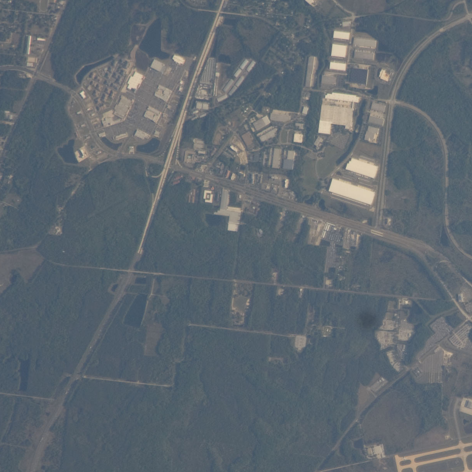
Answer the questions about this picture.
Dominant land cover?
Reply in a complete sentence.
The bulk of the photo consists of trees.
